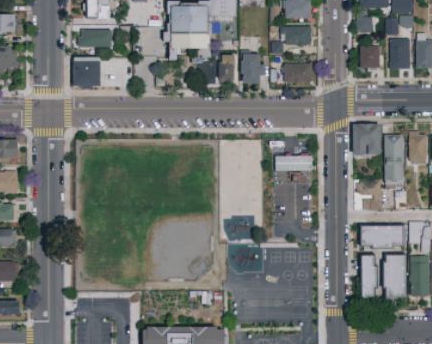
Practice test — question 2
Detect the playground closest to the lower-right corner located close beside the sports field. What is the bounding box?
[228,244,263,273]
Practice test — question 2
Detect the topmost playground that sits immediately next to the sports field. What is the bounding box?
[224,216,254,240]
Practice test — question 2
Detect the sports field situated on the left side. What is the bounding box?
[78,144,216,287]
